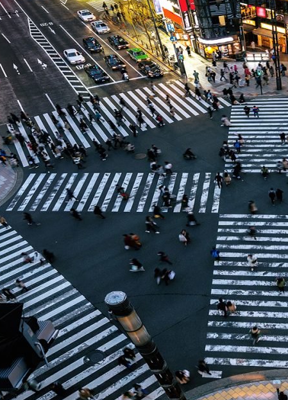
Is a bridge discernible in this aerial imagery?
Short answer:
No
